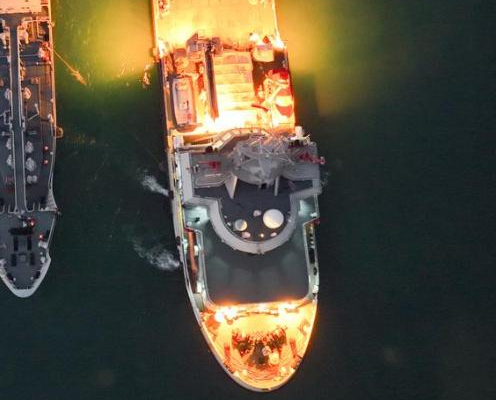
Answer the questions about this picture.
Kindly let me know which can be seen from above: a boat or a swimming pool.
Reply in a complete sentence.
The image shows a boat.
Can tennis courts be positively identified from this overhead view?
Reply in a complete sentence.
No, I can see no tennis court in this picture.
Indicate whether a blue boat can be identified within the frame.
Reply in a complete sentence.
No, I can see no blue boat in this picture.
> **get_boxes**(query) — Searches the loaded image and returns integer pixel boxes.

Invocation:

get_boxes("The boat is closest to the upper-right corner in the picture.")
[271,68,295,115]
